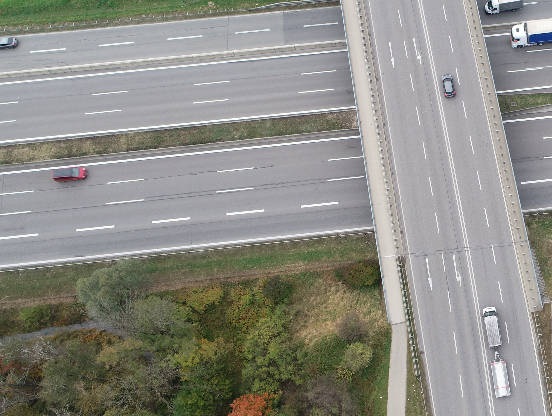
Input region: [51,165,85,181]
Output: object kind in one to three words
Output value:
car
